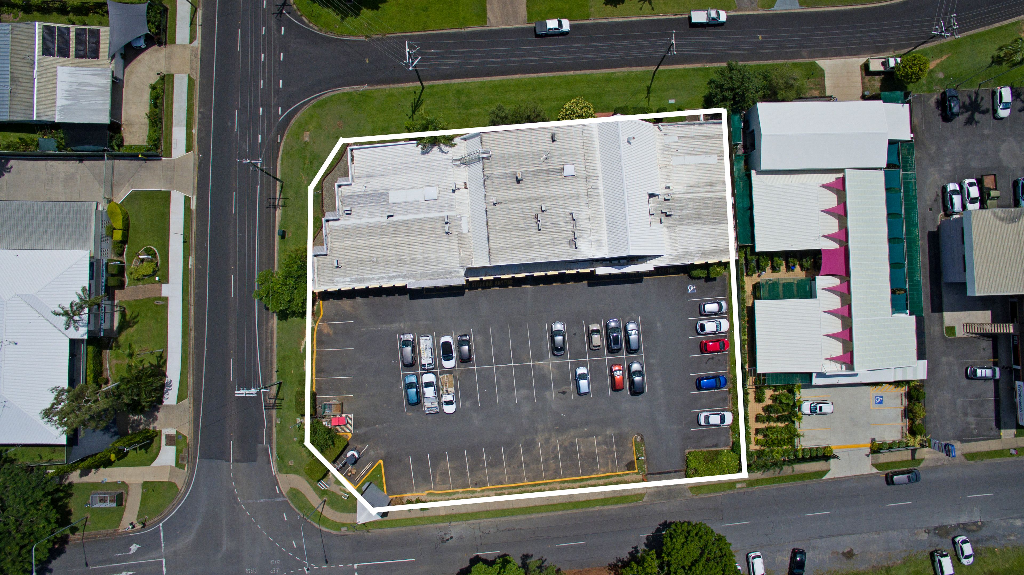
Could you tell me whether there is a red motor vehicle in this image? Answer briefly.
Yes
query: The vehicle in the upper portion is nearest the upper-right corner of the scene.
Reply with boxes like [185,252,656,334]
[991,87,1011,120]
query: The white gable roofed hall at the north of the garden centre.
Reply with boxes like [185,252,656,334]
[747,101,911,173]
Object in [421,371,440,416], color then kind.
white vehicle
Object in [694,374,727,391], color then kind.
blue car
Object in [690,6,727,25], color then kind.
white vehicle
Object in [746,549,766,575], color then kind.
white car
